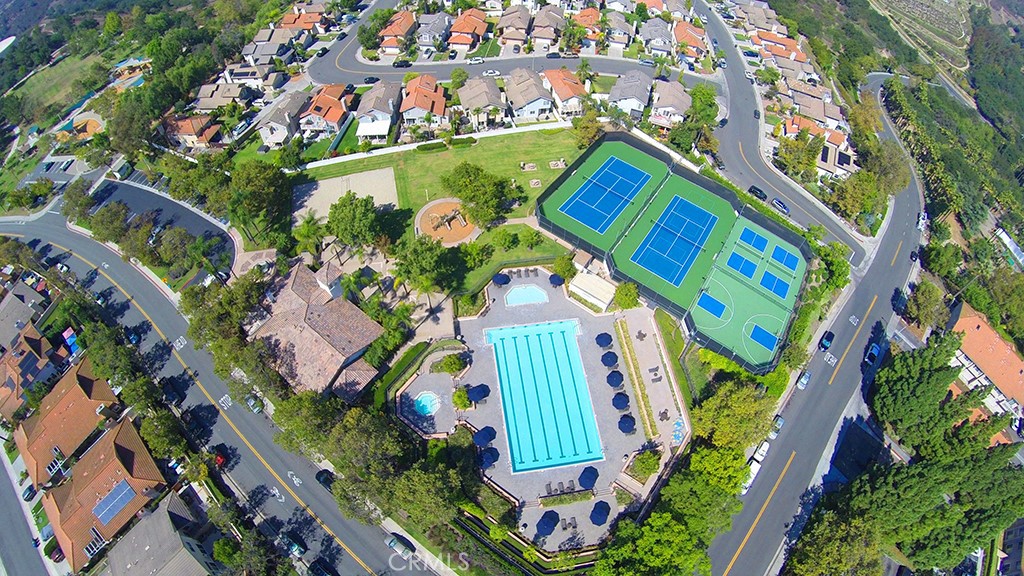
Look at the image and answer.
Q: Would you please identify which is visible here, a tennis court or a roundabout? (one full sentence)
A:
Looking from above, you can make out a tennis court.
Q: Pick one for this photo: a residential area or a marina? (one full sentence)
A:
The picture captures a residential area.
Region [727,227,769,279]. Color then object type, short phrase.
blue sports court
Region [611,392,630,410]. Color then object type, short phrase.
blue umbrella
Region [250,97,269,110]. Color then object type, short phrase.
white vehicle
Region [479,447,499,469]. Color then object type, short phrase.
blue umbrella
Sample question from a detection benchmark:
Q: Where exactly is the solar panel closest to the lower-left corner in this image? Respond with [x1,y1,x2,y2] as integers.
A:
[88,478,137,526]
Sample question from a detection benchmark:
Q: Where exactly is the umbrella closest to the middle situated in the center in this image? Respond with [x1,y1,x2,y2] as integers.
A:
[493,272,509,287]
